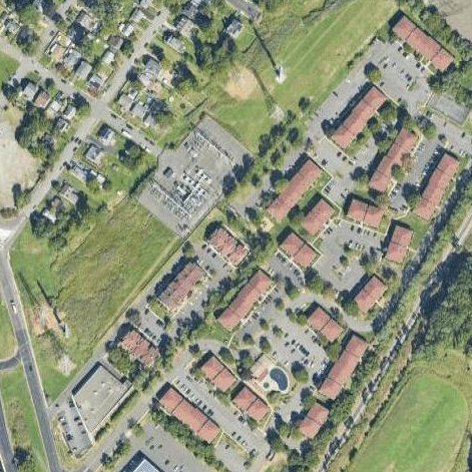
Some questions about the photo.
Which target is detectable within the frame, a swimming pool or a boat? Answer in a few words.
swimming pool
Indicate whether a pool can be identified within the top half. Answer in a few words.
No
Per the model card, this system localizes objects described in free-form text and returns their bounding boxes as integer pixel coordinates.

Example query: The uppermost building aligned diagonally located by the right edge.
[392,15,454,71]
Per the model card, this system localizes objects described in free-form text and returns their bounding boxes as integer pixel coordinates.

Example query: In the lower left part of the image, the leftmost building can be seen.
[72,365,133,441]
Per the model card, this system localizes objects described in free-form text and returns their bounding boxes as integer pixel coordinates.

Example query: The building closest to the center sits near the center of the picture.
[207,229,249,265]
